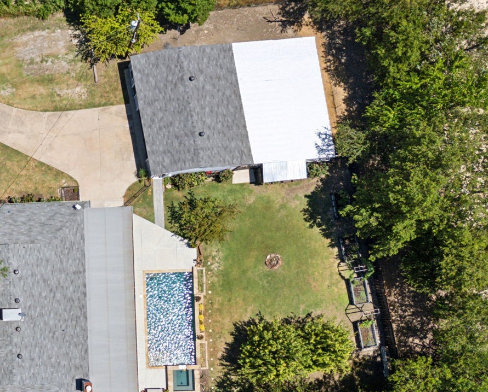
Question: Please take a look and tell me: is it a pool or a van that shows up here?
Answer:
pool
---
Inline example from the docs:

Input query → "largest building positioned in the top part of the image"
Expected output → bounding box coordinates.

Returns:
[129,36,334,182]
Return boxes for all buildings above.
[129,36,334,182]
[0,200,139,392]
